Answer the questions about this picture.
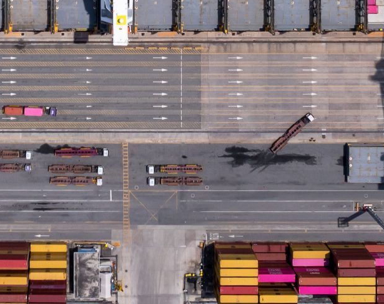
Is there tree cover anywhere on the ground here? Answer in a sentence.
No, the picture contains no tree cover.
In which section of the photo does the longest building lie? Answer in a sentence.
You can find the longest building in the bottom left area of the picture.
